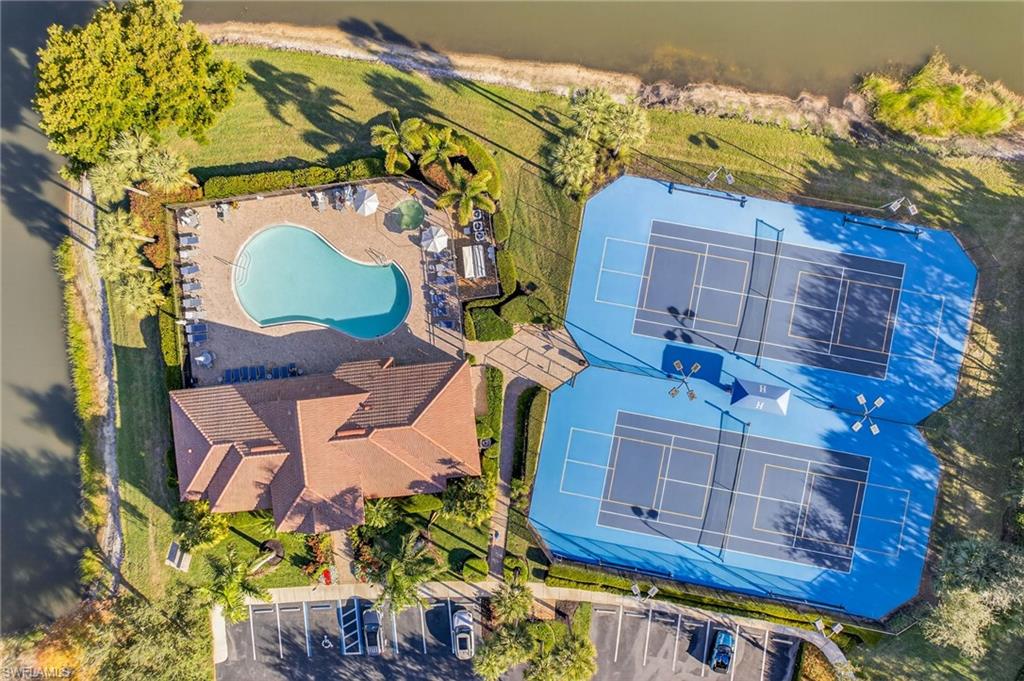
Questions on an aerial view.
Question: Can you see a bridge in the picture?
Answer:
No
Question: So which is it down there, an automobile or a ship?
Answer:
automobile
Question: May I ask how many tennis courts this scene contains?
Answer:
2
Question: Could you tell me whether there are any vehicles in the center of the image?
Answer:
No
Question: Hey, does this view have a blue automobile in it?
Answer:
Yes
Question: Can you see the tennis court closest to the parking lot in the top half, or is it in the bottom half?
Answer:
bottom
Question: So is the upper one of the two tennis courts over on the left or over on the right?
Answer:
right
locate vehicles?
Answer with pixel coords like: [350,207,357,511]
[450,606,475,661]
[709,623,737,674]
[358,606,383,657]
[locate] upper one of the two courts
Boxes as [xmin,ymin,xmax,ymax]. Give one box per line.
[565,176,977,424]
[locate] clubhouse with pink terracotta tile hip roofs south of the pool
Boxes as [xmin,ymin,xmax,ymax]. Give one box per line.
[168,359,481,538]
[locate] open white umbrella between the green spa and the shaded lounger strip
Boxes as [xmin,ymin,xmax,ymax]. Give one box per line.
[421,225,447,251]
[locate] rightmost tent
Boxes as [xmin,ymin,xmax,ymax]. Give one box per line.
[724,377,790,416]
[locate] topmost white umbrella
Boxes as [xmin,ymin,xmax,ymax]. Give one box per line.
[353,187,381,215]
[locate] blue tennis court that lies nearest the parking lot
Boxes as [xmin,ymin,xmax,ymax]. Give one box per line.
[528,365,940,619]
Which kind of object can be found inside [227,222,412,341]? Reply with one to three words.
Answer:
swimming pool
